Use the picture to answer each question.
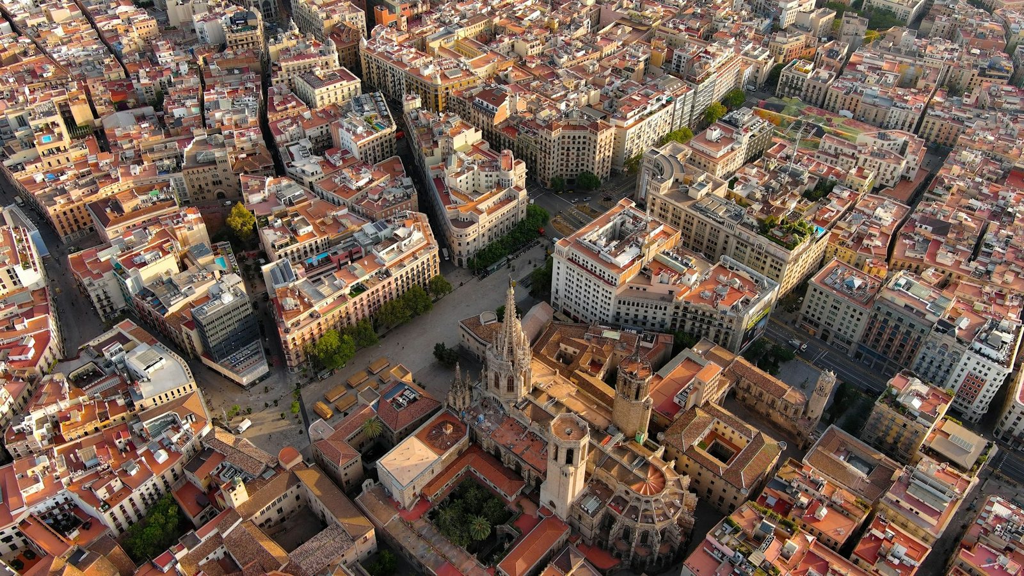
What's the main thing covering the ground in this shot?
buildings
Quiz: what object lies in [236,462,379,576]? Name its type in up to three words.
building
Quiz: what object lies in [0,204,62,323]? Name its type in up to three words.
house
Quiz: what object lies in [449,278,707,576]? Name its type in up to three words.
church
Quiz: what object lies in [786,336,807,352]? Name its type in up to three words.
vehicle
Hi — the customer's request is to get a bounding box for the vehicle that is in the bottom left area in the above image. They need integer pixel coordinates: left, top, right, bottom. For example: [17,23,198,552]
[234,417,252,431]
